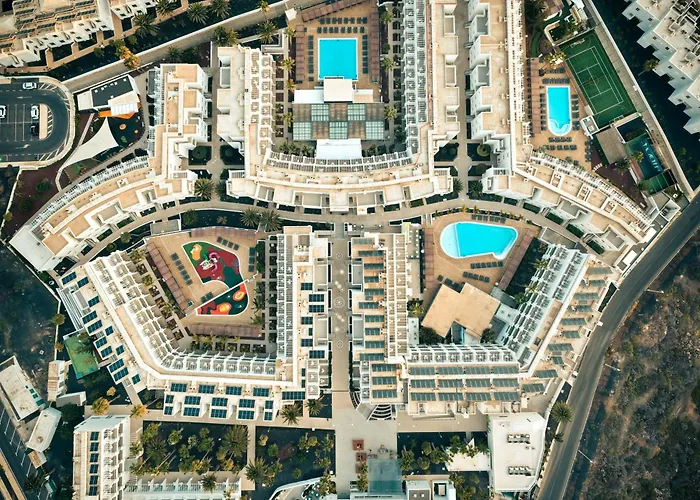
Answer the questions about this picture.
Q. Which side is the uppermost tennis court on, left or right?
right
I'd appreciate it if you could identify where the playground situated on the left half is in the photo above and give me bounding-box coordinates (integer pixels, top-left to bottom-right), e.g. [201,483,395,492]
[182,241,249,316]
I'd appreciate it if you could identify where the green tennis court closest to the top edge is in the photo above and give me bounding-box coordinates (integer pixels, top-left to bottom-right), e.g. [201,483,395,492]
[558,29,637,128]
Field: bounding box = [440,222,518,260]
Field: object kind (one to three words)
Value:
swimming pool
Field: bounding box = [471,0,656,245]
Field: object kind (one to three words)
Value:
building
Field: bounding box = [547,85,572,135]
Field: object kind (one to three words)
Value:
swimming pool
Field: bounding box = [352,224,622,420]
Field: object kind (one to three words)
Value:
building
